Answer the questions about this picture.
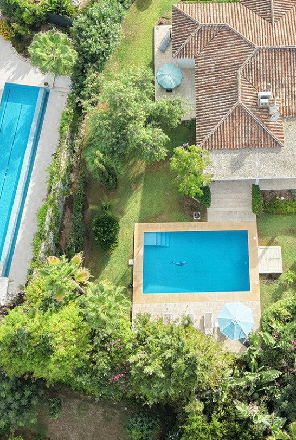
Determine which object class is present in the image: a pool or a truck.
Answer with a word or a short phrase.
pool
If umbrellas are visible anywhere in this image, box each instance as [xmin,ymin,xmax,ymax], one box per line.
[156,65,183,88]
[218,303,254,339]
